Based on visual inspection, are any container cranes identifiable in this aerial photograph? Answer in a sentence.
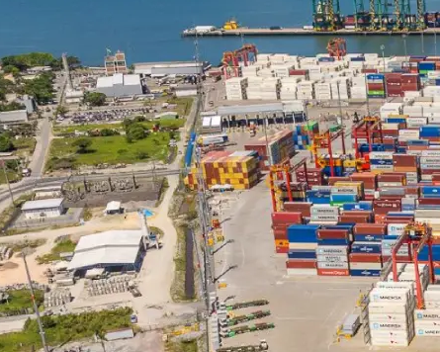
Yes, a container crane can be made out from above.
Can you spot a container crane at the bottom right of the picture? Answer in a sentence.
Yes, a container crane is visible at the bottom right of the picture.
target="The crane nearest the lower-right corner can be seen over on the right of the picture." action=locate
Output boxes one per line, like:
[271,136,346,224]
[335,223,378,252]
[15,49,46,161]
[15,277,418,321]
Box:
[382,221,435,309]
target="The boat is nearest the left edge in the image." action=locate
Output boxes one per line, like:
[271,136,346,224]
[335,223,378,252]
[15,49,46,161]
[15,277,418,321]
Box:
[227,16,247,29]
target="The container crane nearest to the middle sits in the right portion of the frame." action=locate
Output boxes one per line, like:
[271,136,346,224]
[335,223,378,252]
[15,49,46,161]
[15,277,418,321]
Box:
[265,151,309,214]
